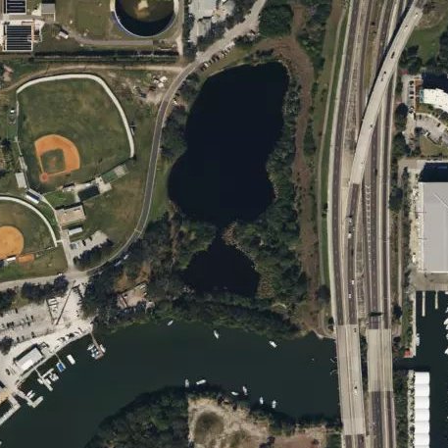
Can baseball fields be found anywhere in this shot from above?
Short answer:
Yes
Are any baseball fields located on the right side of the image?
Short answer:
No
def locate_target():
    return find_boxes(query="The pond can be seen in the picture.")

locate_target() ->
[168,61,287,296]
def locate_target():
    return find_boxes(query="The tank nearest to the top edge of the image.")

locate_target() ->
[114,0,177,33]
